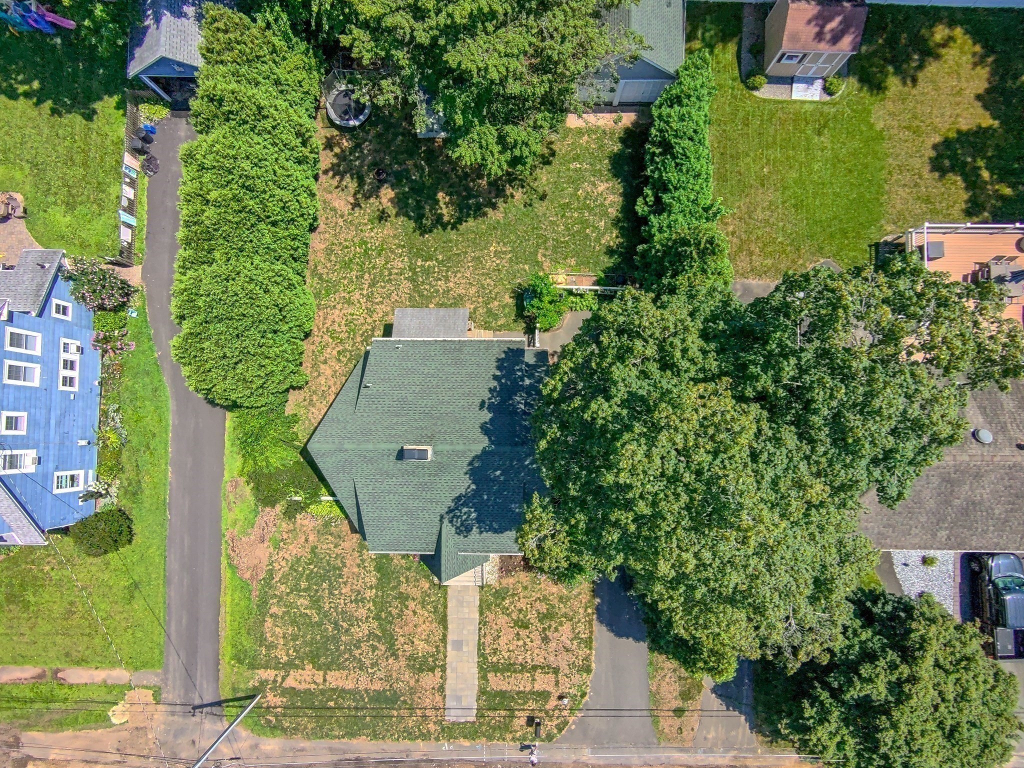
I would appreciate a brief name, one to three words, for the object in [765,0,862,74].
shed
